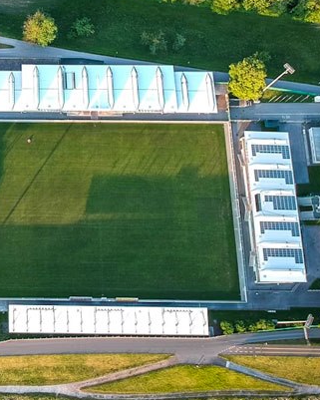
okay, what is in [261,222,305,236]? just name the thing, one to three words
solar array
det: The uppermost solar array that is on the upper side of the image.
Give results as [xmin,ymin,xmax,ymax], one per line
[253,146,296,159]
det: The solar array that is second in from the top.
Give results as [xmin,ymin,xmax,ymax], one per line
[255,170,298,184]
